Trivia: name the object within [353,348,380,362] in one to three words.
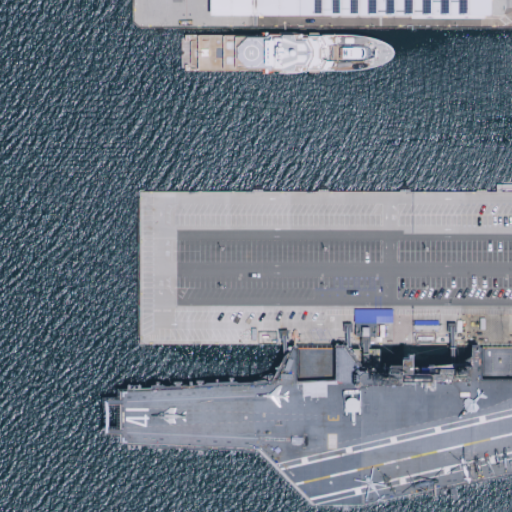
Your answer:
ship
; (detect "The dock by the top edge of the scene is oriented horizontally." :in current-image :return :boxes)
[134,0,512,28]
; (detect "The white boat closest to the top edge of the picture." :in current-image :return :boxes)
[182,32,394,74]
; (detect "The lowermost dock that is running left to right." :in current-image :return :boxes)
[140,190,512,346]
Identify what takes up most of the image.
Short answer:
water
